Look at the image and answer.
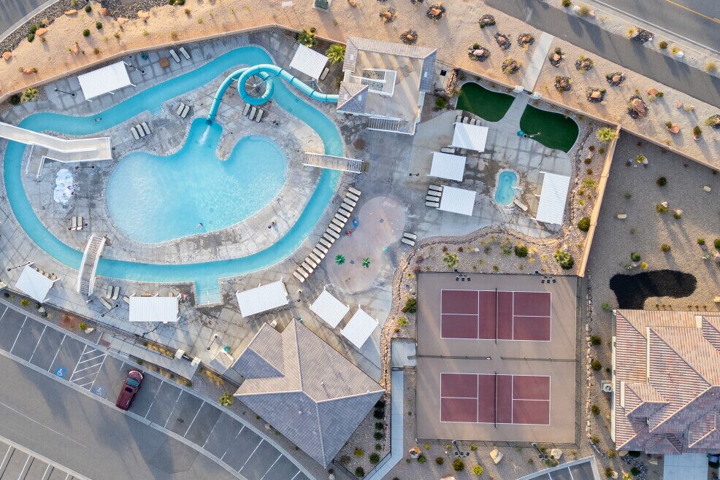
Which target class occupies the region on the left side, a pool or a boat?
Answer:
pool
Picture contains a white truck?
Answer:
No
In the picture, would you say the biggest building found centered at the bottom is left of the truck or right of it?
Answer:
on the right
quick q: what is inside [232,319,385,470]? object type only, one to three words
building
